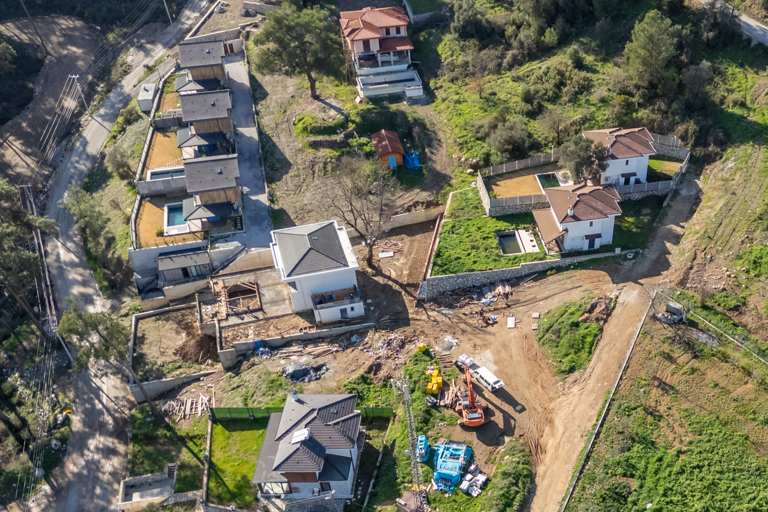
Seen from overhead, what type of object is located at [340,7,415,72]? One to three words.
house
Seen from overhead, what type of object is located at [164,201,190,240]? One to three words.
swimming pool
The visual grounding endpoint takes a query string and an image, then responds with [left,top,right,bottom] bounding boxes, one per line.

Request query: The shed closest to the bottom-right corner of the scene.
[663,297,689,315]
